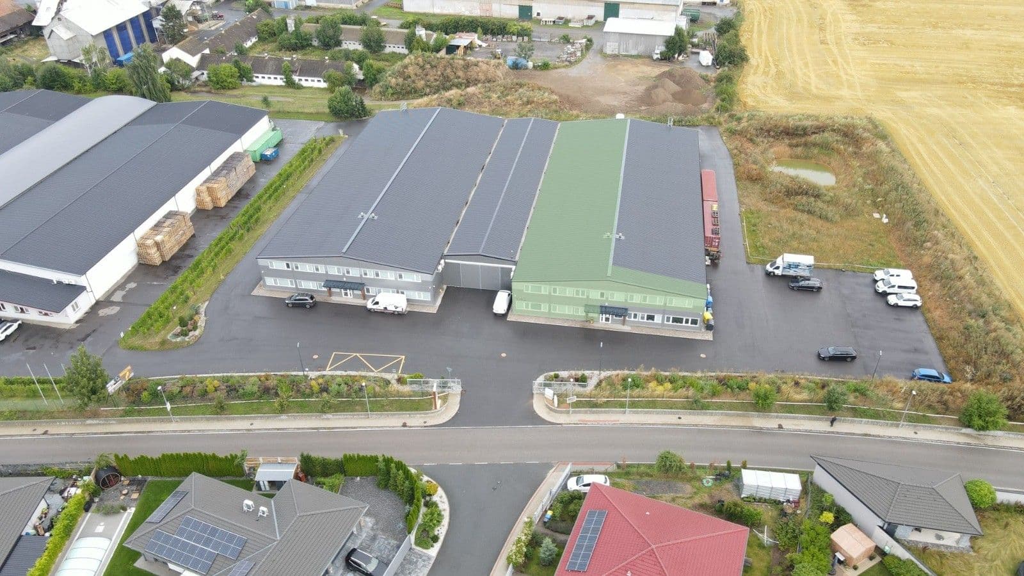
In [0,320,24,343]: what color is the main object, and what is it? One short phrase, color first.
white car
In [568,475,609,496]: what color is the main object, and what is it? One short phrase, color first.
white car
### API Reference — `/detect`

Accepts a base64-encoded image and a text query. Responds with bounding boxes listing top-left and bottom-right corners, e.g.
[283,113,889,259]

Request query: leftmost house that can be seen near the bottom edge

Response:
[0,476,56,573]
